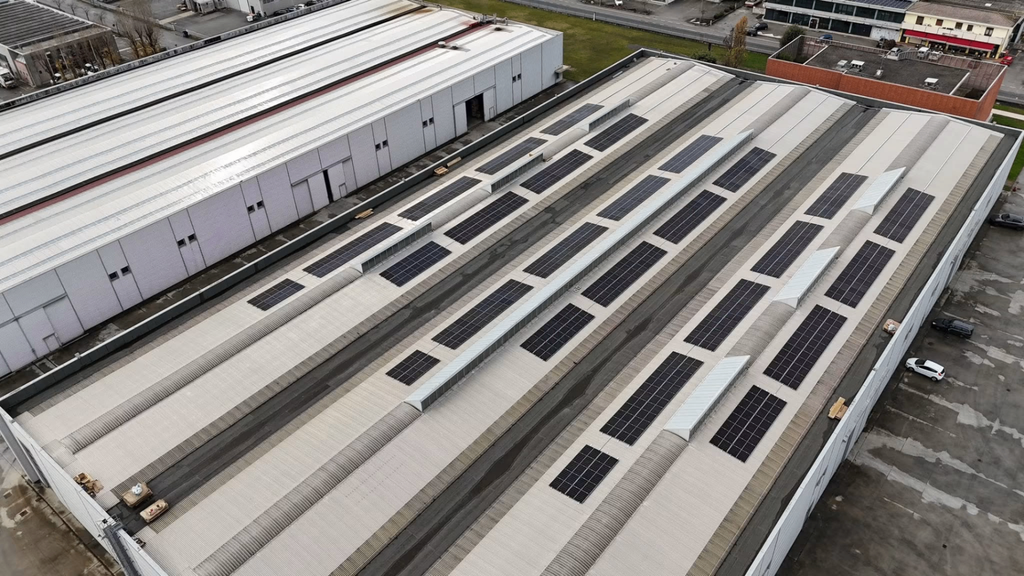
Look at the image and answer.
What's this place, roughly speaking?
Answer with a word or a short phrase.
industrial area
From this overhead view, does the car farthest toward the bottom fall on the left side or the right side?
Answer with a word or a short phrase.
right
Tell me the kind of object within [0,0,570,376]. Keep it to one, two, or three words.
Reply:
warehouse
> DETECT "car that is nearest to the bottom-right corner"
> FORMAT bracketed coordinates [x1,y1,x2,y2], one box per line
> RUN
[905,357,947,381]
